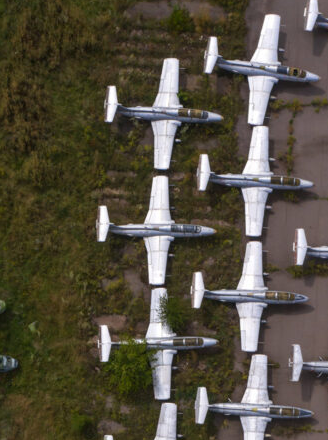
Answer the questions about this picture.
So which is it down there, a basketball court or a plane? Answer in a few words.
plane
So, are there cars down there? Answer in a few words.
No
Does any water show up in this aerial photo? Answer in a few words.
No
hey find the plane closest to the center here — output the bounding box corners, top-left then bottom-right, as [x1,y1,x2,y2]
[97,175,216,285]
